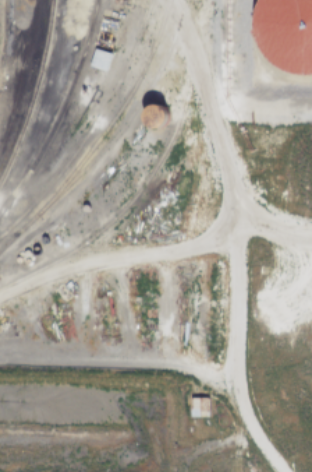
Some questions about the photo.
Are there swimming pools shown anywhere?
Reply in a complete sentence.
No, the picture doesn't show any swimming pool.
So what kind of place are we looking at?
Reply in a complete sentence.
What you see here is an industrial area.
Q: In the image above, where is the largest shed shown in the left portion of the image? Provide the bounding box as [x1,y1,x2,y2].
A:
[92,49,114,70]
